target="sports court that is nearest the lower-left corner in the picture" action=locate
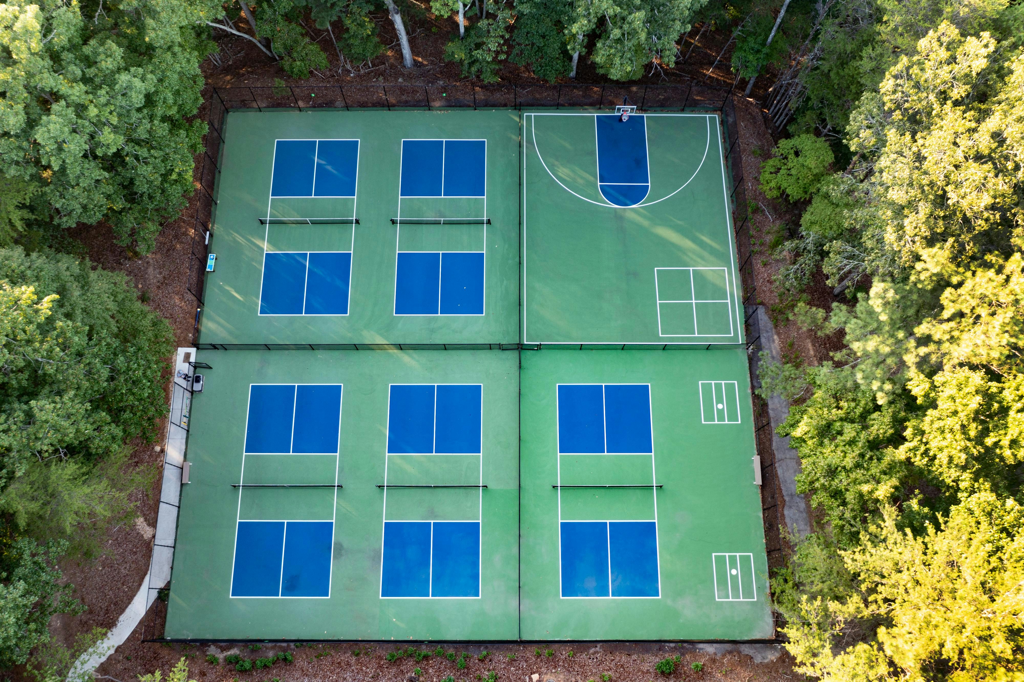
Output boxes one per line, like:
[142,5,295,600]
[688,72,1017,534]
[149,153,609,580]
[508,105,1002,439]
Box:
[230,384,343,597]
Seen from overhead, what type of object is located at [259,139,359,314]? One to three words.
sports court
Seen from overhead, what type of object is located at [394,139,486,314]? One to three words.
sports court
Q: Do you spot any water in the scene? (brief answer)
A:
No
